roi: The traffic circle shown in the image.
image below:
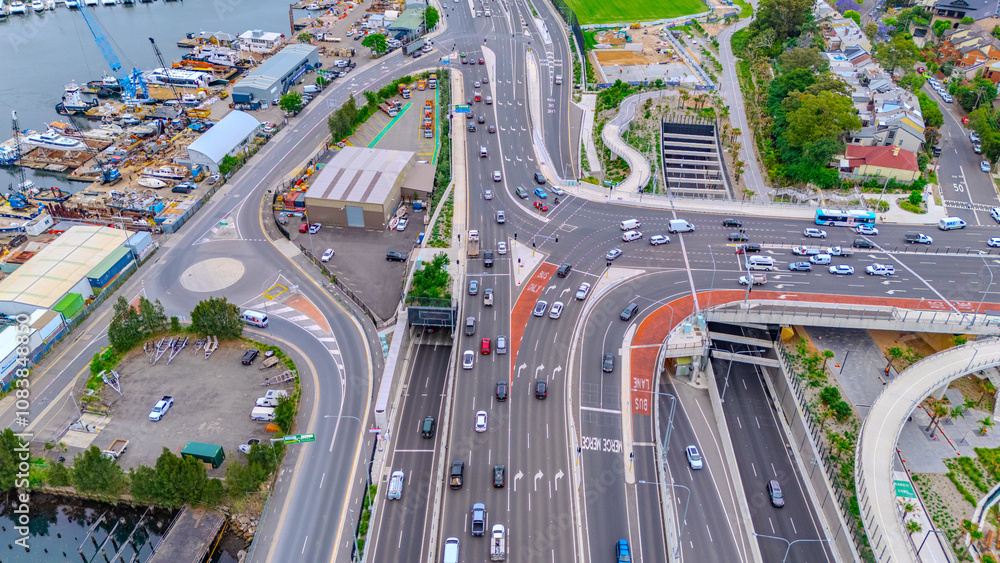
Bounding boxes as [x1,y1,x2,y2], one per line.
[180,257,245,292]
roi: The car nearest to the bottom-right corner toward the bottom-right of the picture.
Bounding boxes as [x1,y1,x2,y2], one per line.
[767,480,783,505]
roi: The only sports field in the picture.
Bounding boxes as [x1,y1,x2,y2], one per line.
[566,0,748,26]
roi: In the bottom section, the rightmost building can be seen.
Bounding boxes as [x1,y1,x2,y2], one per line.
[672,355,698,374]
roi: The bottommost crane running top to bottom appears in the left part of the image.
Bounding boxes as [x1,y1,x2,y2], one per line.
[2,107,31,217]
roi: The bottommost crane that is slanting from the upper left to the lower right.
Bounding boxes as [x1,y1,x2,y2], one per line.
[63,104,127,188]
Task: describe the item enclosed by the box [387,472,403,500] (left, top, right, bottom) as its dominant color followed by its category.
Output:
white vehicle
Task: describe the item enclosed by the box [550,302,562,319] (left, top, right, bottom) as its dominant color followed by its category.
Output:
white vehicle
